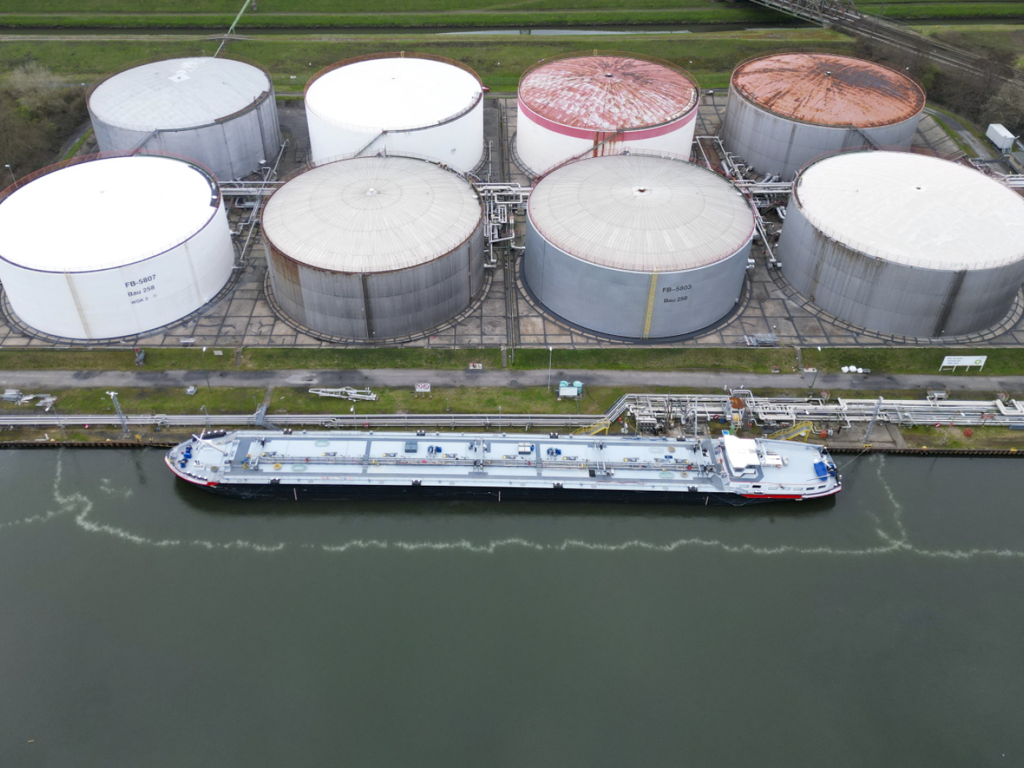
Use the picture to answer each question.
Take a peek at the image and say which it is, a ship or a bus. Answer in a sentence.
Looking from above, you can make out a ship.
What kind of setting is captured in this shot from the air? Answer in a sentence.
The picture captures an industrial area.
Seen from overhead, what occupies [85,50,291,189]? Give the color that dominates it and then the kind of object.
white storage tank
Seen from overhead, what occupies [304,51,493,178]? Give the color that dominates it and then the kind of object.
white storage tank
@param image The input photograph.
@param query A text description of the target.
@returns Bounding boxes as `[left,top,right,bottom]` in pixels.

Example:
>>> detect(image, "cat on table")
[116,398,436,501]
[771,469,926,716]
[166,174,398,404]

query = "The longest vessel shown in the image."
[165,429,844,510]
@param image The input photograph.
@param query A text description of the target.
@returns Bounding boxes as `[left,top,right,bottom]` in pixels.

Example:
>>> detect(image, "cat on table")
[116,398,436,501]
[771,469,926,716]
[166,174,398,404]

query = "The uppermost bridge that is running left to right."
[748,0,865,32]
